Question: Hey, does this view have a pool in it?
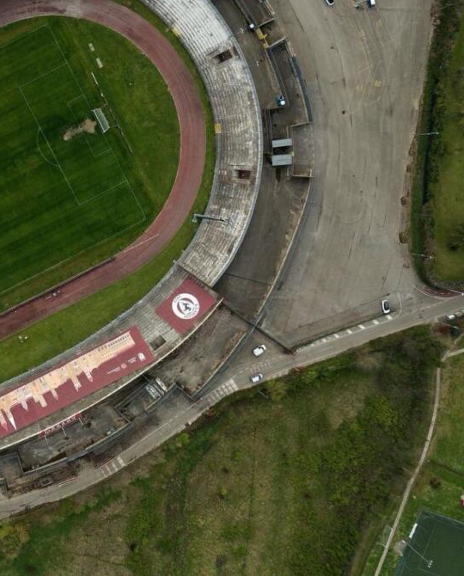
No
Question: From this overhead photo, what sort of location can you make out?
sports ground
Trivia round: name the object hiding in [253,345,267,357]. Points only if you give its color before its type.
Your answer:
white vehicle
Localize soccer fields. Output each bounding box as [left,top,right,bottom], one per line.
[398,511,464,576]
[0,20,152,298]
